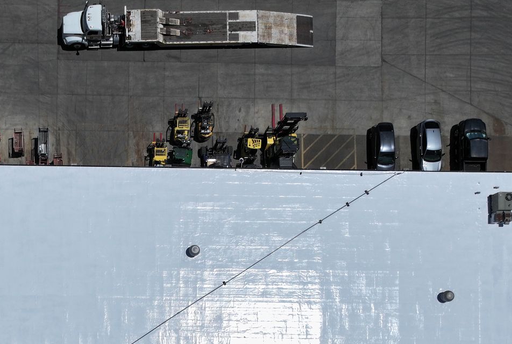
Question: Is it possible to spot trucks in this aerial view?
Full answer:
Yes, this view includes a truck.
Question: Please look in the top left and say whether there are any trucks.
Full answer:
Yes, looking in the top left, one can make out a truck.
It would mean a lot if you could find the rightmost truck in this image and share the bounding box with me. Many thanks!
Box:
[454,119,491,170]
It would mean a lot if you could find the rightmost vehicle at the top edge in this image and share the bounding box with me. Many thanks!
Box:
[124,0,312,53]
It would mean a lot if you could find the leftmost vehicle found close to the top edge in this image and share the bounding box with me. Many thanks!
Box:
[59,0,148,48]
